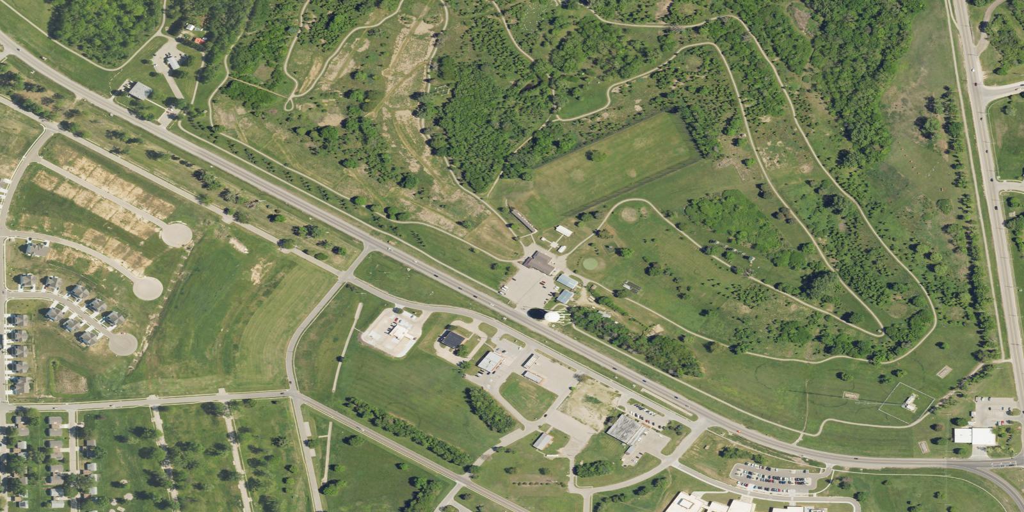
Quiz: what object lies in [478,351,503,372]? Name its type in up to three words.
building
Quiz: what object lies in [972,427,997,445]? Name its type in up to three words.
building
